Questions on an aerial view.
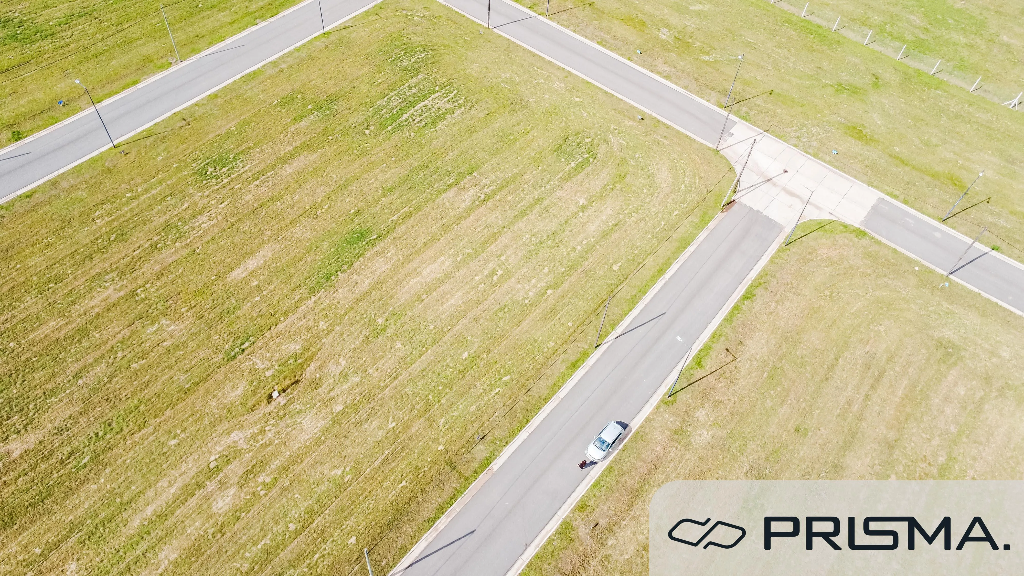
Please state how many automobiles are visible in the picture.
1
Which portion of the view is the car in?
bottom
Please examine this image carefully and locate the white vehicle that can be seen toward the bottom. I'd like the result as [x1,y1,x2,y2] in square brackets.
[585,422,624,465]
